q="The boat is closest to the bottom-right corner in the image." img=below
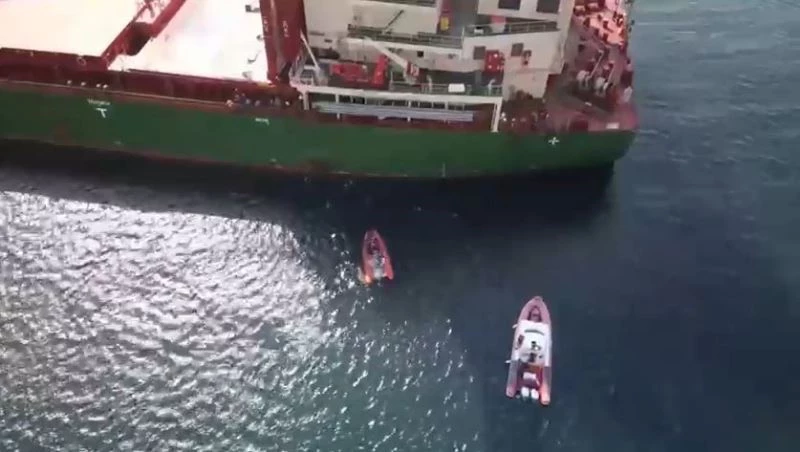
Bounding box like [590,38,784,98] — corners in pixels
[505,297,552,407]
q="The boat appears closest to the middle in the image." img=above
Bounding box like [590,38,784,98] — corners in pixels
[362,229,393,283]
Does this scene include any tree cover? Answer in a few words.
No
